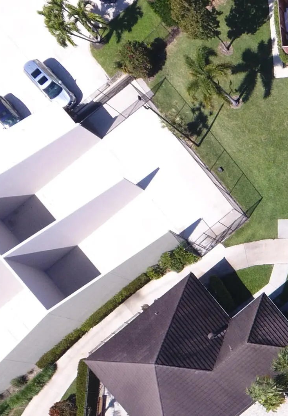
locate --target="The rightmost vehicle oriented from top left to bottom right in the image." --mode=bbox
[20,52,70,105]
